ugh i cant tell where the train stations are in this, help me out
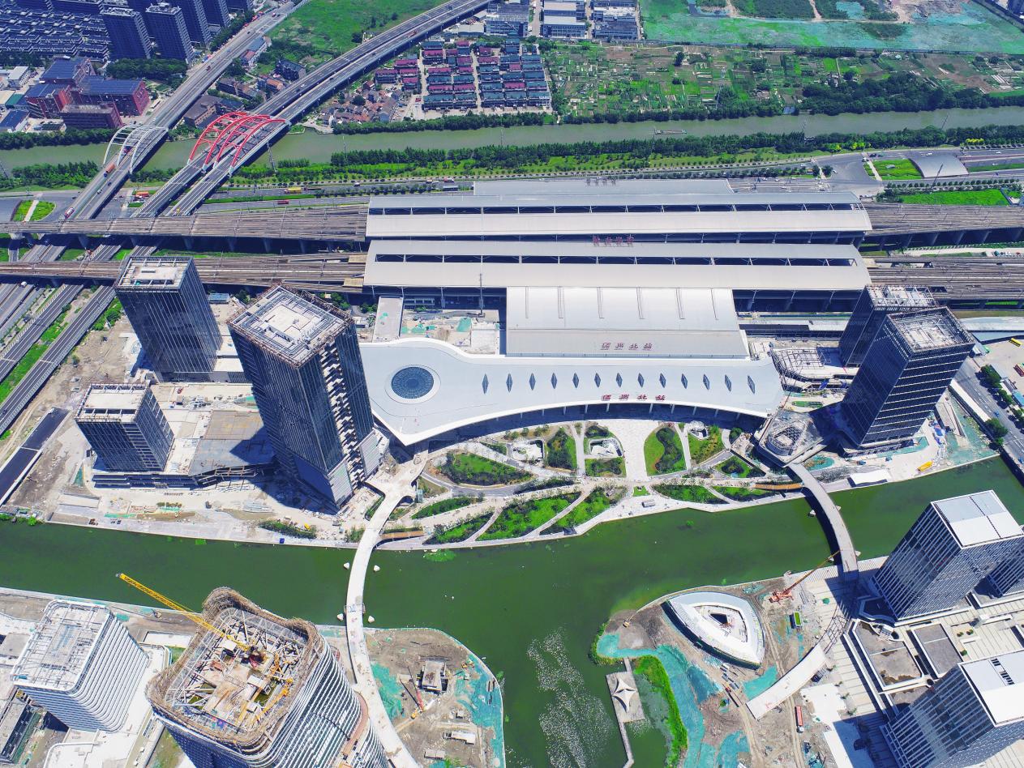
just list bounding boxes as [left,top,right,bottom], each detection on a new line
[343,175,880,451]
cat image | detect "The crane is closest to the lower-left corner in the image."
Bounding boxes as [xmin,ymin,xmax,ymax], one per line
[118,574,277,665]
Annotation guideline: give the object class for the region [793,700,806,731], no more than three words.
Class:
vehicle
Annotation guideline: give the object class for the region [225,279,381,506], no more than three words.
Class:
building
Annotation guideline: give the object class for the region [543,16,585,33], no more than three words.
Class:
building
